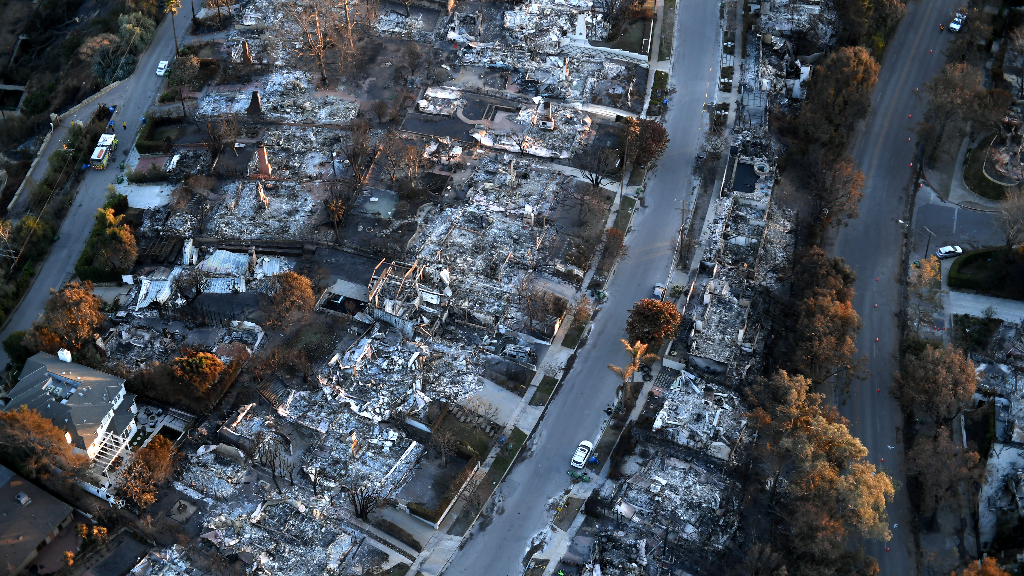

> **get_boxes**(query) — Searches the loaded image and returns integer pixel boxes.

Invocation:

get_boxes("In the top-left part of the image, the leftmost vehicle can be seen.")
[90,131,116,172]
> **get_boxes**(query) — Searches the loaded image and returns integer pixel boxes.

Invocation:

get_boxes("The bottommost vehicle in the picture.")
[572,442,591,468]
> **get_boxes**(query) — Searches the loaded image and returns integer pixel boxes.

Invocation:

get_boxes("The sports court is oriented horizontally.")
[402,112,474,141]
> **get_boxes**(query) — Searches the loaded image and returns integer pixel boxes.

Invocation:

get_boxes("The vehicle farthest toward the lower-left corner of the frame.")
[107,310,136,323]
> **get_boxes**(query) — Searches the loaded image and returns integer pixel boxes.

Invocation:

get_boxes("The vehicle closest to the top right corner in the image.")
[948,10,967,33]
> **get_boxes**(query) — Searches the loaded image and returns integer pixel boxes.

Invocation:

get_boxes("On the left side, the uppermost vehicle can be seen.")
[156,60,169,75]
